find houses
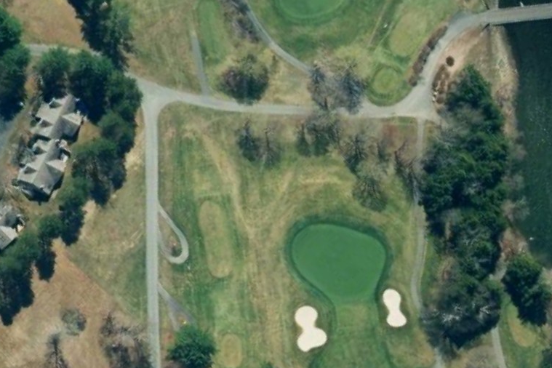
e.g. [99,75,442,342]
[32,86,83,142]
[0,207,18,246]
[19,134,67,189]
